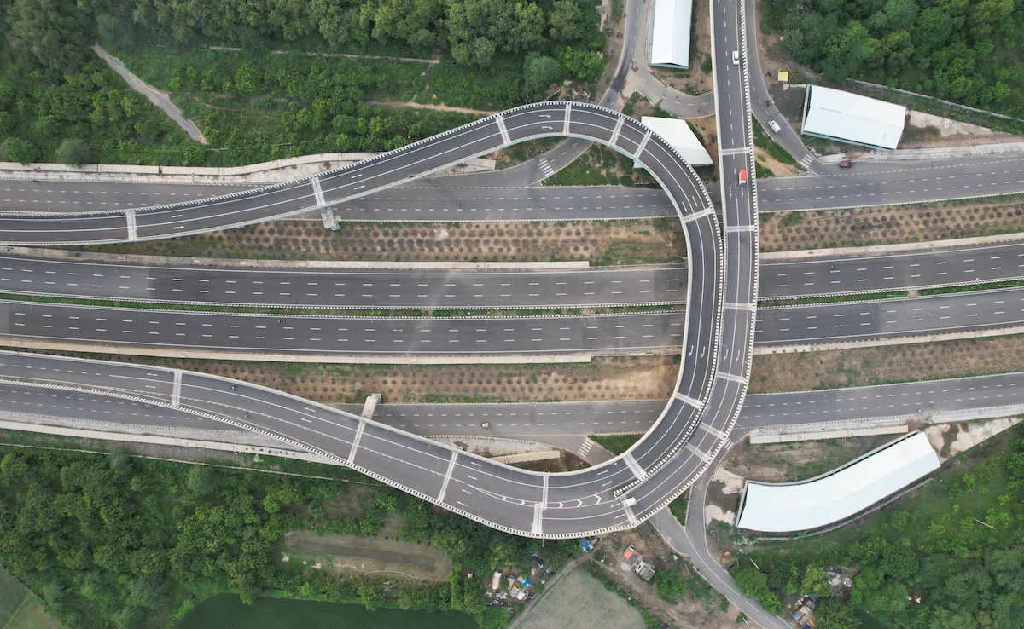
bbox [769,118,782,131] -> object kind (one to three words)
vehicle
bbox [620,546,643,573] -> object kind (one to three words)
shed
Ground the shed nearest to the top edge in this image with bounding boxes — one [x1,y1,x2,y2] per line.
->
[645,0,693,72]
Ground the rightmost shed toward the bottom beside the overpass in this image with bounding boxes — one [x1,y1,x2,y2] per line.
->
[735,431,940,532]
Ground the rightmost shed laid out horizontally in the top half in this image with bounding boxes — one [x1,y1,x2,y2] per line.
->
[801,85,906,150]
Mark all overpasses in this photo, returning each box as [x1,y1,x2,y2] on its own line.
[0,0,760,540]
